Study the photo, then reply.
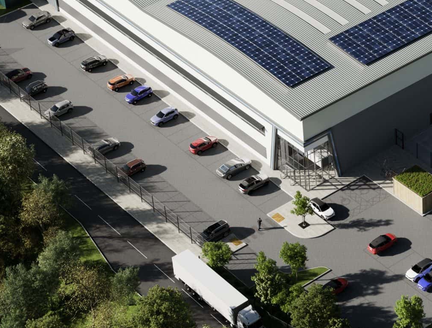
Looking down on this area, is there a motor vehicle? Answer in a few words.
Yes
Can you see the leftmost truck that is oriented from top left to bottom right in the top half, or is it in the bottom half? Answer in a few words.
bottom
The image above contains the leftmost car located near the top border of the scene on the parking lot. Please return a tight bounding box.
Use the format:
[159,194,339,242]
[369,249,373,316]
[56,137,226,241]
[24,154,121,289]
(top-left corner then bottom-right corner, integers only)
[25,11,51,29]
